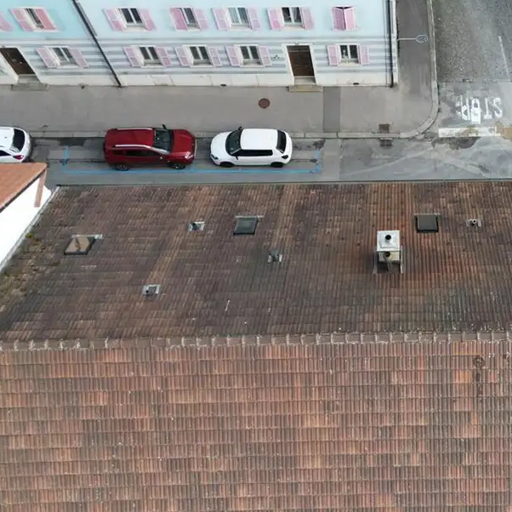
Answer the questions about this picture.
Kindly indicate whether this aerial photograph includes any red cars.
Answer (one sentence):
Yes, there's a red car down there.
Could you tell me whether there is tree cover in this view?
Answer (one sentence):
No, no tree cover is visible.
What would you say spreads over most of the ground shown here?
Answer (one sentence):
What you mostly see from above here is buildings.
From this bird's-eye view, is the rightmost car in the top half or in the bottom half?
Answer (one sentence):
The rightmost car is in the top half of the image.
